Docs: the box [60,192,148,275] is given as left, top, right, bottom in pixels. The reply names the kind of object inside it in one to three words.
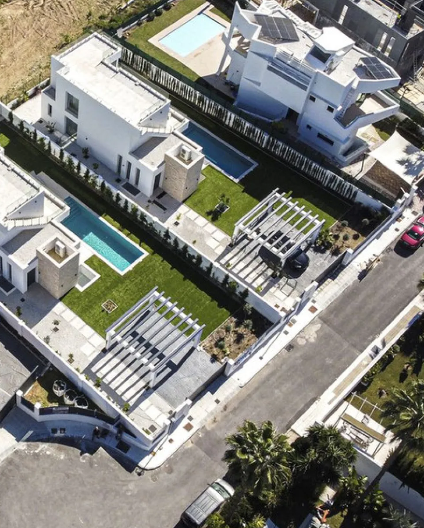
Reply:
swimming pool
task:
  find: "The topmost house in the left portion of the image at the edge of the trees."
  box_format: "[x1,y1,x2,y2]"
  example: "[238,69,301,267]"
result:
[41,26,220,203]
